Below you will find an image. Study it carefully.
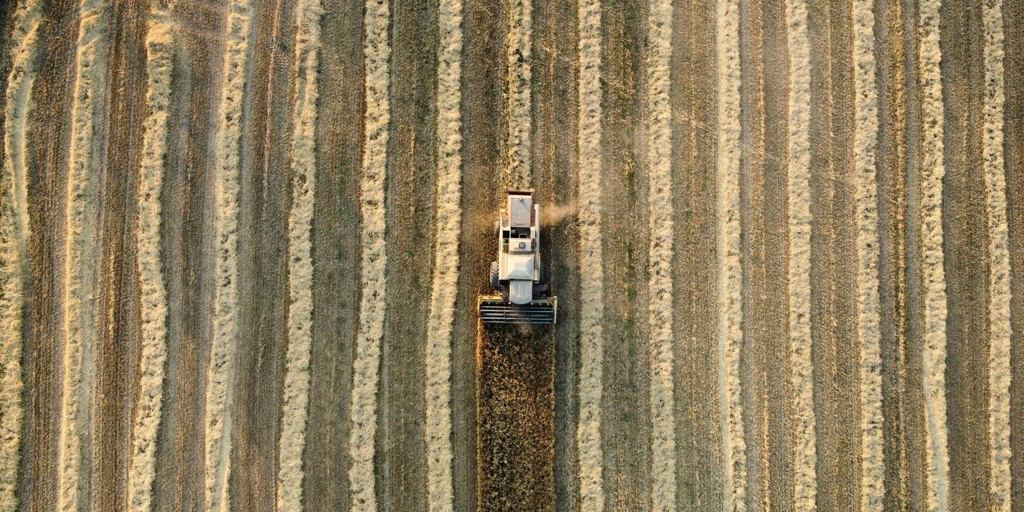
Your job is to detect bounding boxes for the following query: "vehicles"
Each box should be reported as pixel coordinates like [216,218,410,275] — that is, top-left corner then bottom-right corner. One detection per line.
[478,189,557,328]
